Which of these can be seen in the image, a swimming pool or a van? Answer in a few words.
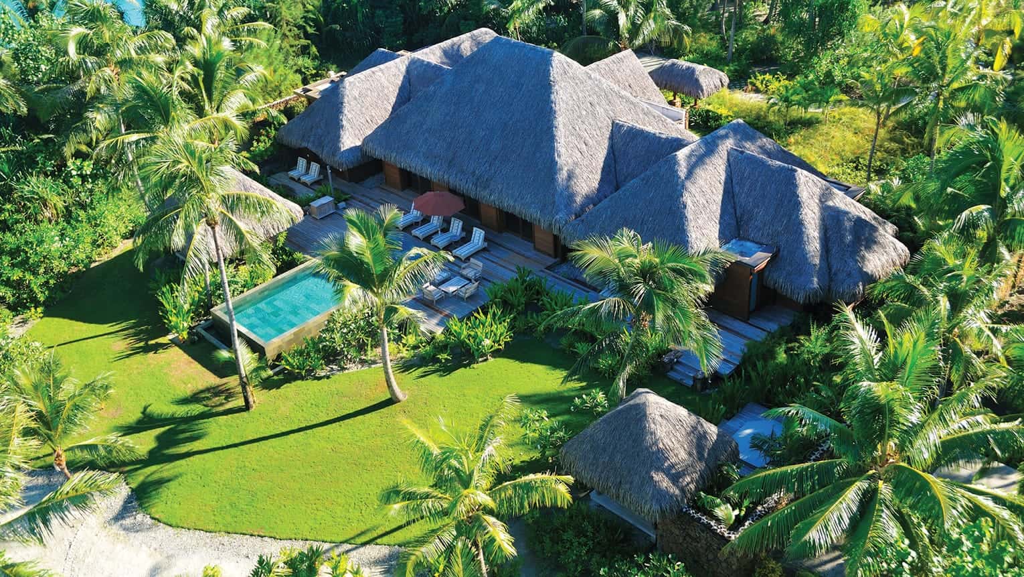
swimming pool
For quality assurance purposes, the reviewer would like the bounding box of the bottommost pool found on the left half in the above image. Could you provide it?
[190,260,377,371]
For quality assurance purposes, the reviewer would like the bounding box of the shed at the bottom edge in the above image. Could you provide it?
[555,386,735,551]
